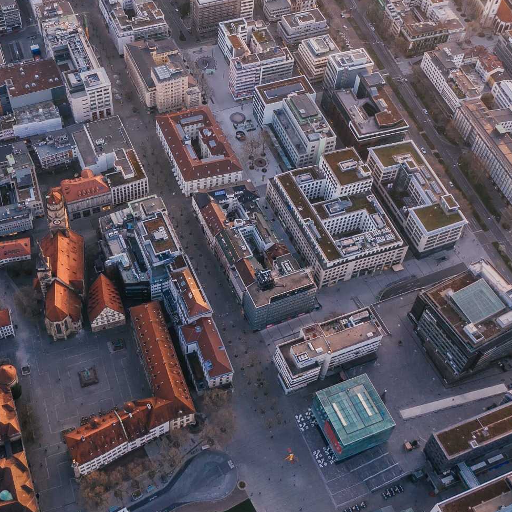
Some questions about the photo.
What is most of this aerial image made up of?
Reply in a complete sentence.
The scene is dominated by buildings.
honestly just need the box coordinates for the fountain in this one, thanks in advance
[194,56,217,70]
